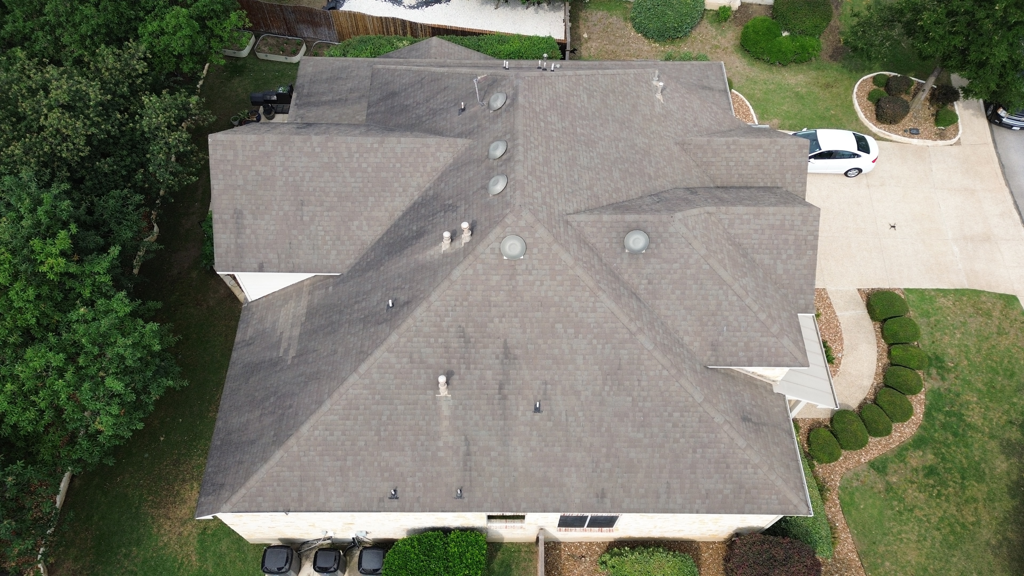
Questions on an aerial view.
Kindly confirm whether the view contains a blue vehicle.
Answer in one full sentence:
No, there's no blue vehicle here.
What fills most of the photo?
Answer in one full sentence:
For the most part, this view shows buildings.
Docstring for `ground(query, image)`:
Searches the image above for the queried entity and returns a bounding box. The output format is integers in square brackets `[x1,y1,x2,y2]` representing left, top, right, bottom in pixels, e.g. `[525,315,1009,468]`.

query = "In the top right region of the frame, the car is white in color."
[784,122,883,181]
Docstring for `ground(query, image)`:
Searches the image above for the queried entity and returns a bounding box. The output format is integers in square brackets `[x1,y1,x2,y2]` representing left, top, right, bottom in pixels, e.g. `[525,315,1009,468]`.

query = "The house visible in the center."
[197,37,841,556]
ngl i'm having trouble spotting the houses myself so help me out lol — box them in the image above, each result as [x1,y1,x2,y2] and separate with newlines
[702,0,774,10]
[197,37,841,556]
